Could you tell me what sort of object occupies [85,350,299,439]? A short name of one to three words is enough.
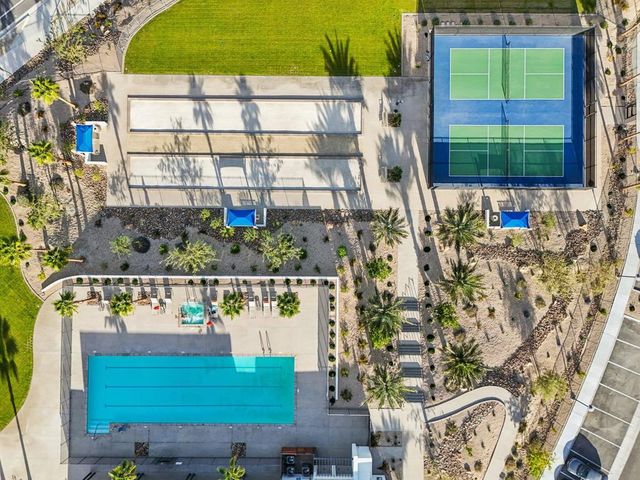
swimming pool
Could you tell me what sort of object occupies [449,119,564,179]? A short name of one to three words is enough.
sports court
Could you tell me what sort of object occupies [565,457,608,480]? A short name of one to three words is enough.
car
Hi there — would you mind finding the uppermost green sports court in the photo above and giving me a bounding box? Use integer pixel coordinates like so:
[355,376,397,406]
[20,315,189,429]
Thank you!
[450,41,564,102]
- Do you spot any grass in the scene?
Yes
